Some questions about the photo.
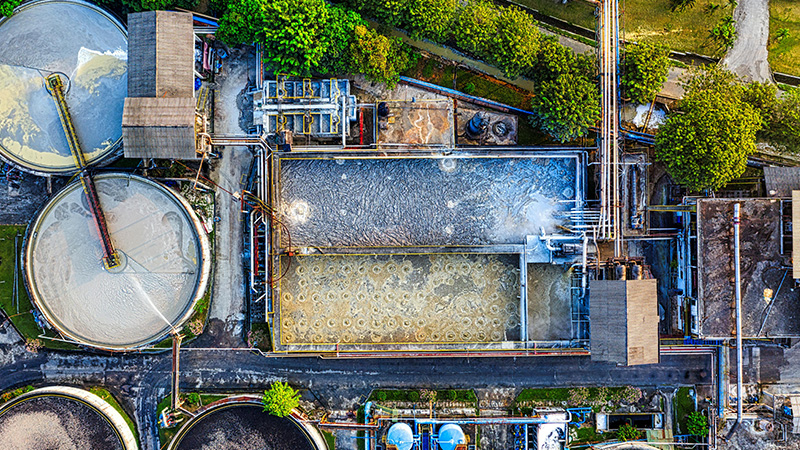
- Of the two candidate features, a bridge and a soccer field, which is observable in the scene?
bridge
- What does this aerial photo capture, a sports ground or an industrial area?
industrial area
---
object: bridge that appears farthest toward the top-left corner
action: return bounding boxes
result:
[50,77,91,167]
